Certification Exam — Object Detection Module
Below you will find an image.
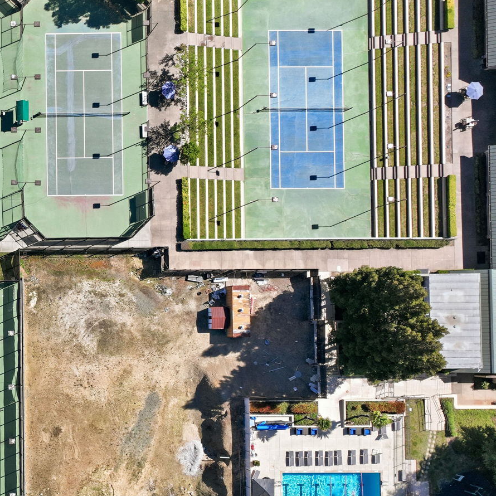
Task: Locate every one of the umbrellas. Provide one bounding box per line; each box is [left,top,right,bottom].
[159,81,177,99]
[460,81,483,99]
[162,145,178,162]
